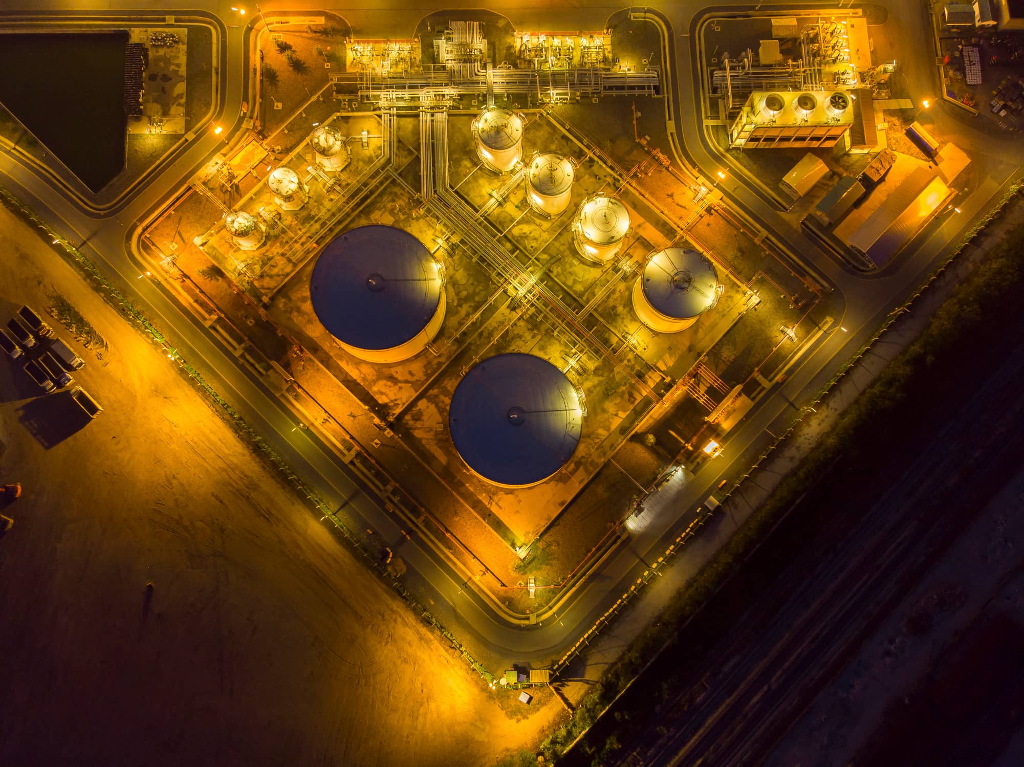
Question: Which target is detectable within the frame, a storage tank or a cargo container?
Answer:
storage tank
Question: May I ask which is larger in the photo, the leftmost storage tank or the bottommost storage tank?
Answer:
the bottommost storage tank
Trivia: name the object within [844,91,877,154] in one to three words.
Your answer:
building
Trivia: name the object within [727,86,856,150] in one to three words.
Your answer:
cooling tower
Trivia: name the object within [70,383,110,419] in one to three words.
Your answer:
truck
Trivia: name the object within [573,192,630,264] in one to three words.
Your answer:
storage tank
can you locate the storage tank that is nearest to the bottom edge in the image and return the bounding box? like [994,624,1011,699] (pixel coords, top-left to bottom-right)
[448,353,588,492]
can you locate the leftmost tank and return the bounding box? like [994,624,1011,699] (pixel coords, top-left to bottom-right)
[219,208,270,254]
